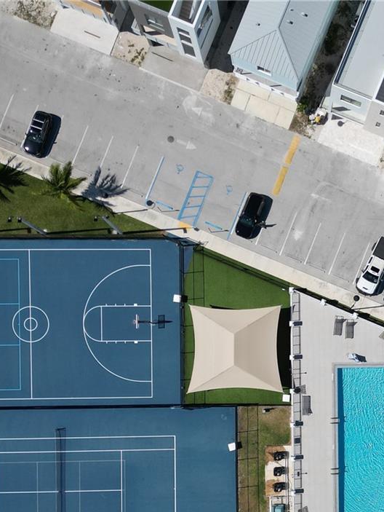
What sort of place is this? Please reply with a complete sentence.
It's a sports ground.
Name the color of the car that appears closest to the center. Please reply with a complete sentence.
From above, the car that appears closest to the center appears black.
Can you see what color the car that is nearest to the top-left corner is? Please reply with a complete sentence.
In this view, the car that is nearest to the top-left corner is black.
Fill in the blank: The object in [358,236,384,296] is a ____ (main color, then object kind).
white truck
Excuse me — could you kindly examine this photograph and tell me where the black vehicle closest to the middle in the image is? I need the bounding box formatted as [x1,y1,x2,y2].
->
[235,191,268,241]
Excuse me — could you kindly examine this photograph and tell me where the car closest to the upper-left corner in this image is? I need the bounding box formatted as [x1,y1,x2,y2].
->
[24,109,52,158]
